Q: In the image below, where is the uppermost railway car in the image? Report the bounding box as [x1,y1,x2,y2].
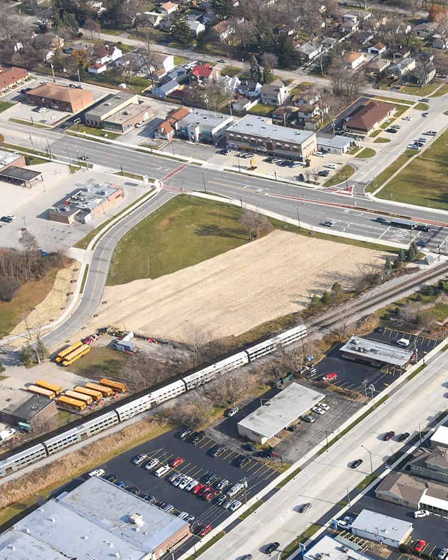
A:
[243,324,309,365]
